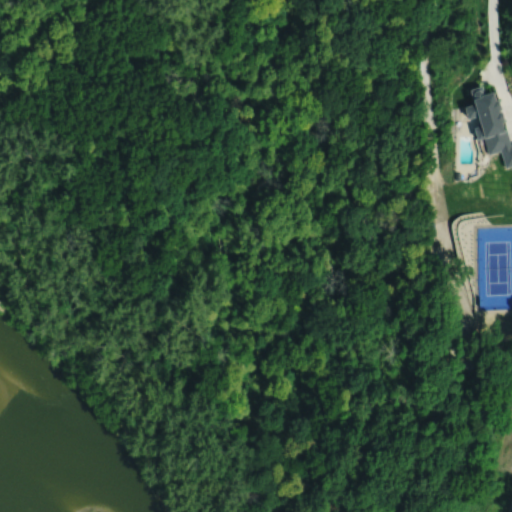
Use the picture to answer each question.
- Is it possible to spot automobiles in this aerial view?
No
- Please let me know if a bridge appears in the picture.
No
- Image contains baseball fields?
No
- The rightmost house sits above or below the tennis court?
above it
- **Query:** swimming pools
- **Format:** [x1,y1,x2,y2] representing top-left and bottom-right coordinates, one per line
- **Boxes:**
[460,137,474,164]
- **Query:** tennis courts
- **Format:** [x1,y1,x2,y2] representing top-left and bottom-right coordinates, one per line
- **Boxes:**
[474,226,512,314]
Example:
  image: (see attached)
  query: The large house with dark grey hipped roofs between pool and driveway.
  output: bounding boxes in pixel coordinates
[466,88,512,167]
